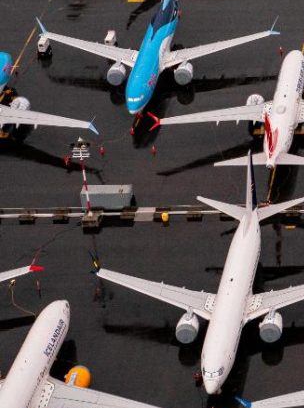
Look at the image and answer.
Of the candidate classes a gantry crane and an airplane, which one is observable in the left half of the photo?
airplane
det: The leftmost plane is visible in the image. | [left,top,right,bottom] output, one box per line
[0,248,46,284]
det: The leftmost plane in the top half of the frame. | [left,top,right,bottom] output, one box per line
[0,54,99,139]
